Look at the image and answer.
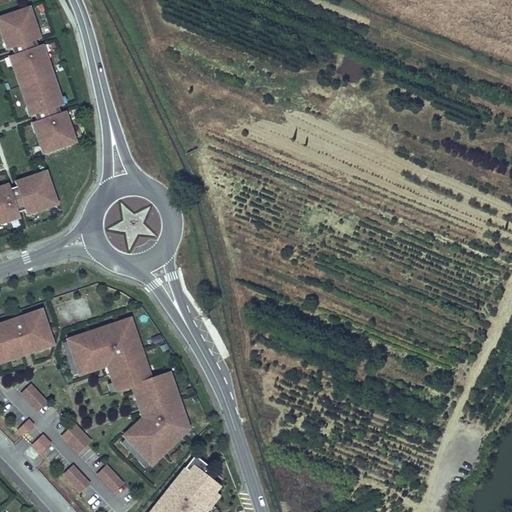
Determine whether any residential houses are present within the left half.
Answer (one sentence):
Yes, I can see a residential house within the left half.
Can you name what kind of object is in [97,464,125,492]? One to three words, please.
building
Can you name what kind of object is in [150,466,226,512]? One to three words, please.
house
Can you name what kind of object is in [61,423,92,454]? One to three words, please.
building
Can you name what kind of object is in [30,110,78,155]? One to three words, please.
house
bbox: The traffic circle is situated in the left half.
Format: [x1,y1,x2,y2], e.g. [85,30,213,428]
[83,175,182,274]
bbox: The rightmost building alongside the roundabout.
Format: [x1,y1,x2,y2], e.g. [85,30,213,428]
[66,315,191,468]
